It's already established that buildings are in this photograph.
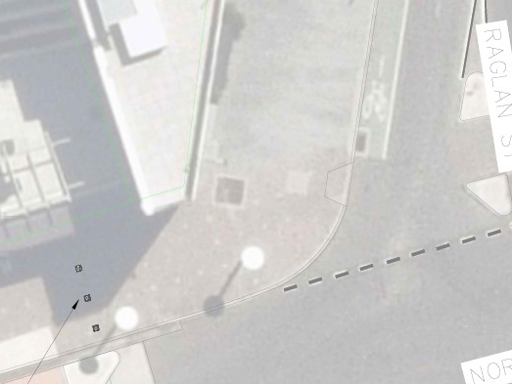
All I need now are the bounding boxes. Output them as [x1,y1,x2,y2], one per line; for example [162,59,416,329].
[101,0,245,218]
[0,0,85,248]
